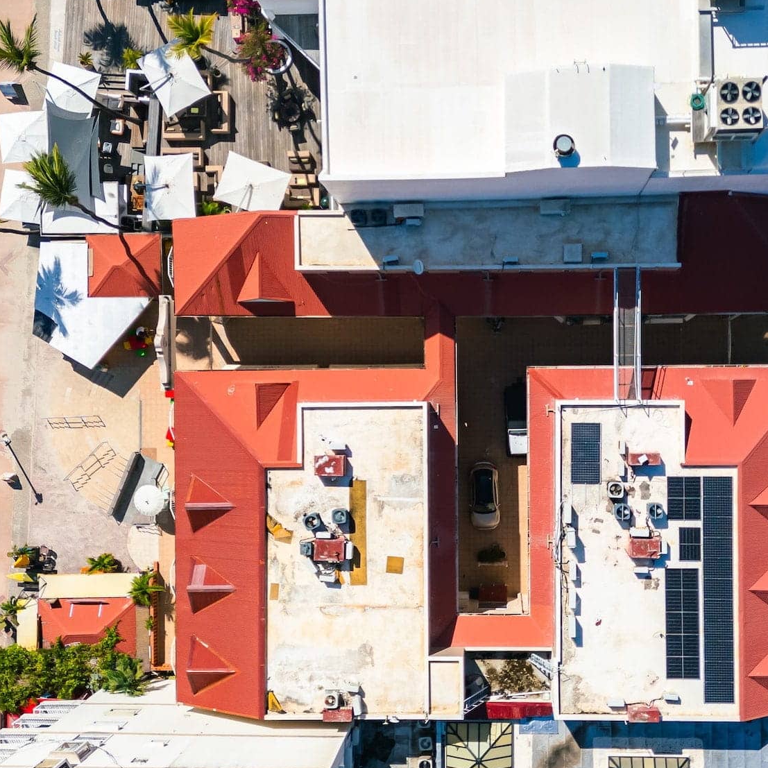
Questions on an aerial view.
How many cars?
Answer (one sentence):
Looking from above, you can make out 2 cars.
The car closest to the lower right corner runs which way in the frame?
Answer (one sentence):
I'd say the car closest to the lower right corner is aligned vertically in the picture.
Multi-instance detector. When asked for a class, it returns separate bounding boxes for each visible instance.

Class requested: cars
[467,462,502,529]
[503,385,527,456]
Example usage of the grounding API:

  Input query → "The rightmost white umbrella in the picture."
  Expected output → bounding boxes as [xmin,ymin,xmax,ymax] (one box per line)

[213,151,292,214]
